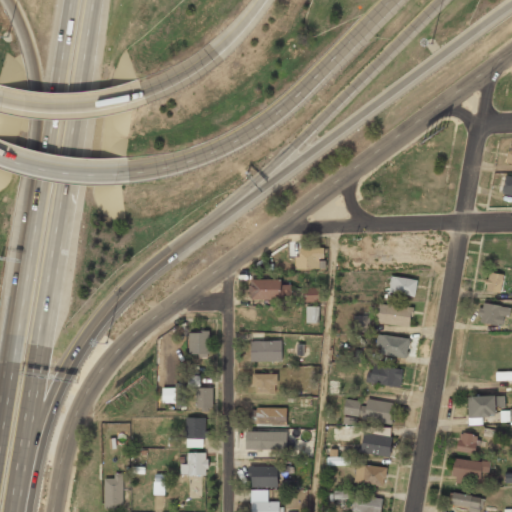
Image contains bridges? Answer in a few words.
Yes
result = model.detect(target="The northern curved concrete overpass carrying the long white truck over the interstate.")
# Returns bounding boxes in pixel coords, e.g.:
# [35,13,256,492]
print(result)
[0,81,142,119]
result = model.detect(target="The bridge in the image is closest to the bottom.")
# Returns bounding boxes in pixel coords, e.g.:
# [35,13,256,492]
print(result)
[0,138,129,185]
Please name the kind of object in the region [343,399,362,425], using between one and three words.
shed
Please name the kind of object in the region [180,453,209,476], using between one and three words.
house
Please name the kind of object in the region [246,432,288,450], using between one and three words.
house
